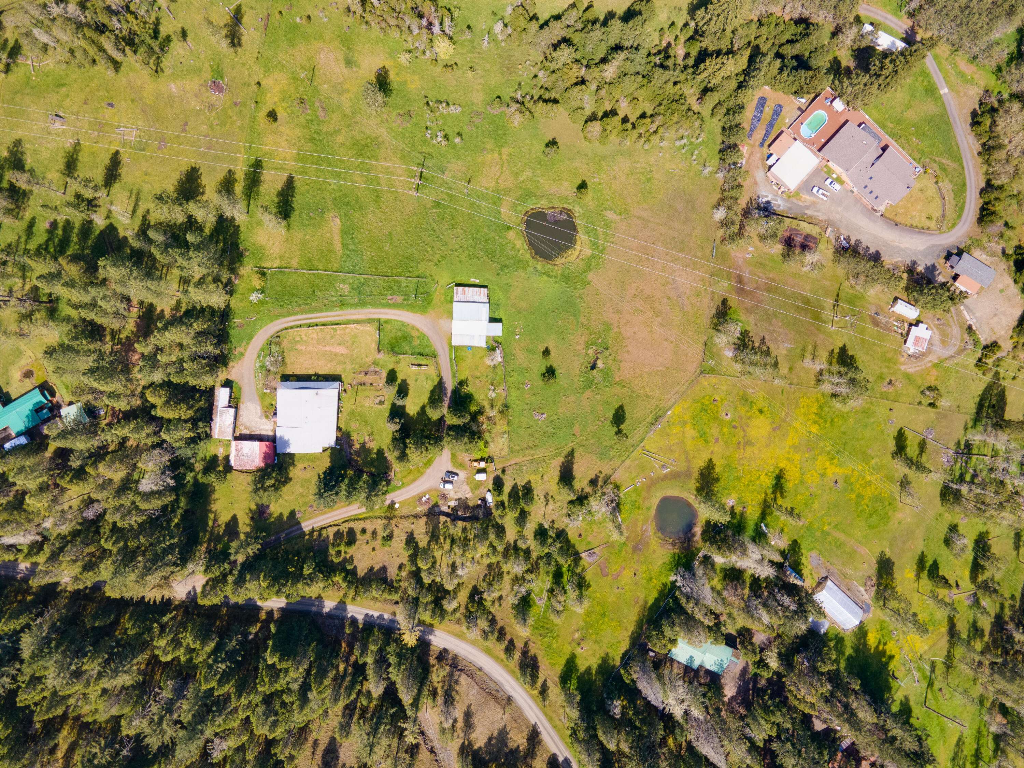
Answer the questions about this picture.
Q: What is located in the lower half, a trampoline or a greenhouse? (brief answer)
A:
greenhouse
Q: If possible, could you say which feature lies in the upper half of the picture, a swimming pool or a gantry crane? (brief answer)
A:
swimming pool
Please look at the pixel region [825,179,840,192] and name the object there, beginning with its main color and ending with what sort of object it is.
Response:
white vehicle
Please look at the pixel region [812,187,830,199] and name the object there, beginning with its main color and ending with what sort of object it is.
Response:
white vehicle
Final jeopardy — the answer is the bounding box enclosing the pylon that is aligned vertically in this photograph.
[407,166,423,203]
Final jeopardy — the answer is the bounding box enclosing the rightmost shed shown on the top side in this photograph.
[944,252,996,294]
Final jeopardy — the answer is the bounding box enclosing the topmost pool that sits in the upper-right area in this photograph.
[800,110,828,139]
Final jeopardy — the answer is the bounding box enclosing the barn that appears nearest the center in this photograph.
[452,287,502,346]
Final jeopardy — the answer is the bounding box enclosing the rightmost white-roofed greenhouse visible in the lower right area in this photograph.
[811,577,863,629]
